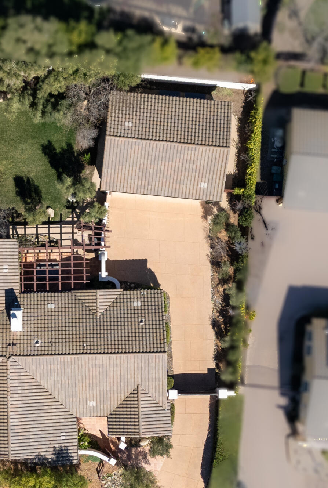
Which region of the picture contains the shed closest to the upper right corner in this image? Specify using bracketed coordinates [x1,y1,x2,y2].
[226,0,260,42]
